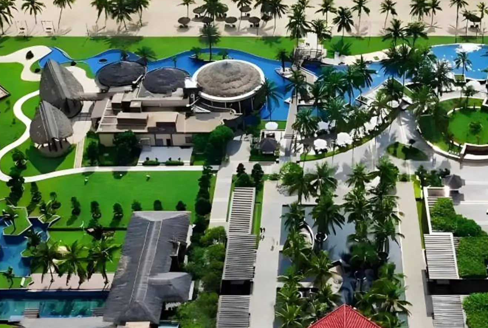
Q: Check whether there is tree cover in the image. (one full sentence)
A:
Yes, tree cover shows up in the scene.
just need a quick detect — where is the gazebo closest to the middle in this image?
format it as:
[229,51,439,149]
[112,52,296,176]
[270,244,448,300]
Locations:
[259,140,278,161]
